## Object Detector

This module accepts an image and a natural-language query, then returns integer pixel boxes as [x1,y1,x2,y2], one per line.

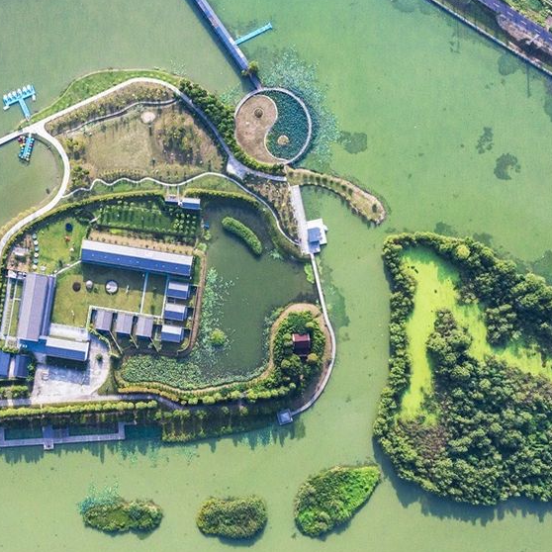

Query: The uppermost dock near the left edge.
[3,85,35,124]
